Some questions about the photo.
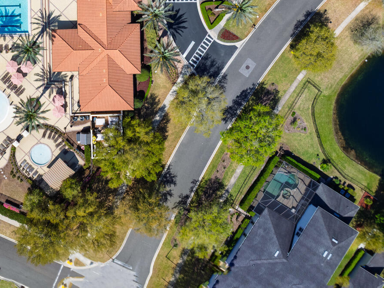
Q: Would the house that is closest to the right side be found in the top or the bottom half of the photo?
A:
bottom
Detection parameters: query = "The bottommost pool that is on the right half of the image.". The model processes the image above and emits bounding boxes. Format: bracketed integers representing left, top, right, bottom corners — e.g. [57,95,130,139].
[264,172,301,201]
